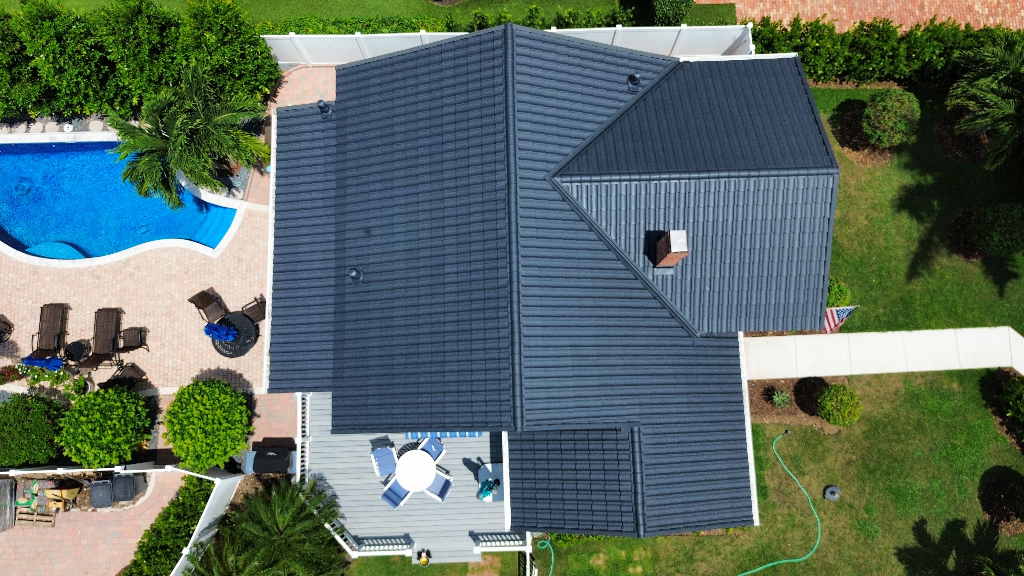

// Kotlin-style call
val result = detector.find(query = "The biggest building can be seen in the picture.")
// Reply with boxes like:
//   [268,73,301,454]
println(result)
[262,20,843,540]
